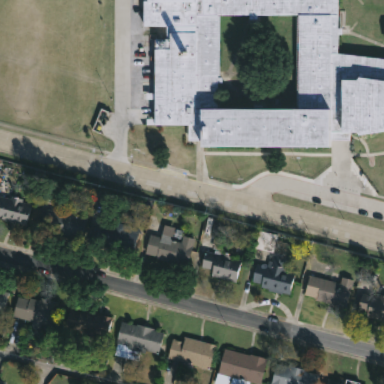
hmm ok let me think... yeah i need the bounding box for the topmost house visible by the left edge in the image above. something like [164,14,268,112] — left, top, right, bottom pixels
[0,194,31,224]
